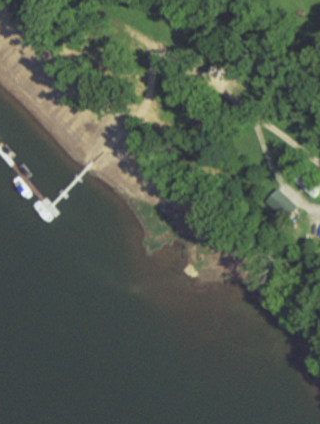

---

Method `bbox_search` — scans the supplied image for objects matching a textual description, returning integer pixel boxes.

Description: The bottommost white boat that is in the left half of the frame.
[32,201,54,224]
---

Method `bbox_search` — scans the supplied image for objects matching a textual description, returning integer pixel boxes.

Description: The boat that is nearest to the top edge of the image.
[0,140,16,158]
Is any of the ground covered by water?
Yes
